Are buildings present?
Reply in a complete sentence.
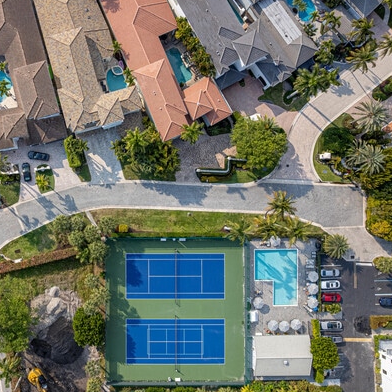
Yes, a building can be made out from above.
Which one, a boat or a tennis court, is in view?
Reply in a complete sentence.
The image shows a tennis court.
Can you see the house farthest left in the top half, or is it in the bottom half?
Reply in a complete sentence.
The top half of the photo is where the house farthest left is.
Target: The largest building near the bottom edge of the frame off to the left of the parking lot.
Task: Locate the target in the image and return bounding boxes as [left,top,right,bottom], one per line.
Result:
[247,332,313,377]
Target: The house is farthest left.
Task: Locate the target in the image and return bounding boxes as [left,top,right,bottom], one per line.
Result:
[0,0,66,150]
